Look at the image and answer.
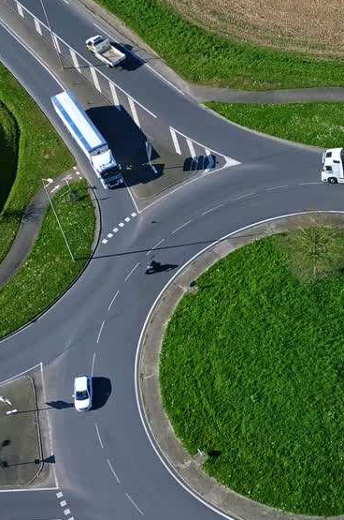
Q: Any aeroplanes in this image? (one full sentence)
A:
No, there isn't any aeroplane down there.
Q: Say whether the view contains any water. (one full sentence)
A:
No, no water is visible.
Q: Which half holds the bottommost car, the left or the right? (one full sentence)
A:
You can find the bottommost car on the left side of the picture.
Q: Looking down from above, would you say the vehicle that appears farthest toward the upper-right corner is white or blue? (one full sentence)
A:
The vehicle that appears farthest toward the upper-right corner looks white in the image.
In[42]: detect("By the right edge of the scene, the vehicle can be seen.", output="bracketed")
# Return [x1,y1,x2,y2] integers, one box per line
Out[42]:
[321,148,344,184]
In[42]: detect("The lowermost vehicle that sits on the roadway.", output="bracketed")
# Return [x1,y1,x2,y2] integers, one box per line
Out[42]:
[73,375,94,412]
